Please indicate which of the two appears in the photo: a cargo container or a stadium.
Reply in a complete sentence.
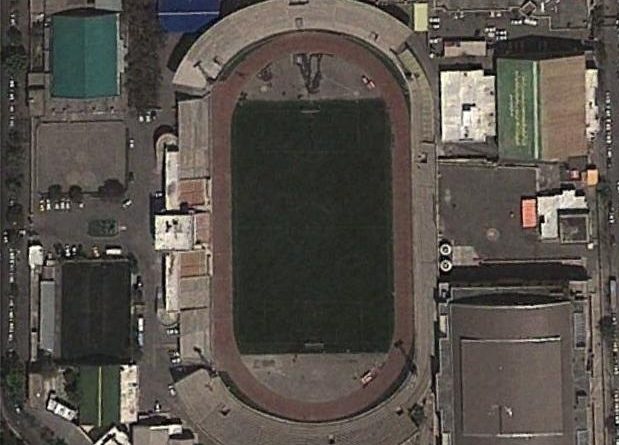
The image shows a stadium.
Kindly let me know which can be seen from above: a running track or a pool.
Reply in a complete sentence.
The one in the frame is a running track.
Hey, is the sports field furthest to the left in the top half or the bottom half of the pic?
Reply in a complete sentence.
The bottom half of the photo is where the sports field furthest to the left is.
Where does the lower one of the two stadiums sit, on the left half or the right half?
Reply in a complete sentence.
It is on the right.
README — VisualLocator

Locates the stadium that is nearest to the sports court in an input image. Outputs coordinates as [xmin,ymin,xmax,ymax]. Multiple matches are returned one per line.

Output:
[173,0,438,445]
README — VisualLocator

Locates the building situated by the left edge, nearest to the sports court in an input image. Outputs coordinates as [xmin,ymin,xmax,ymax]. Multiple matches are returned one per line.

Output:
[29,88,45,116]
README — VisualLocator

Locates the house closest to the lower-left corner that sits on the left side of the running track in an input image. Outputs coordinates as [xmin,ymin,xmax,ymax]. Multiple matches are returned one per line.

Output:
[47,393,77,421]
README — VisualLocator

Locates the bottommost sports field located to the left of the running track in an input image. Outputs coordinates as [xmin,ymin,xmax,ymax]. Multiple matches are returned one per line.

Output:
[54,257,134,364]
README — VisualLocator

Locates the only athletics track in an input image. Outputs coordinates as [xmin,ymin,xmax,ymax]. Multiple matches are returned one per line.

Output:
[212,33,413,423]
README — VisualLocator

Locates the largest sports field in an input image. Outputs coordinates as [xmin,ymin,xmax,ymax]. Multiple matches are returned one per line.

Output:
[232,100,392,353]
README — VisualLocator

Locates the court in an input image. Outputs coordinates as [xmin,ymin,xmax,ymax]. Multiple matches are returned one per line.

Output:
[36,120,129,194]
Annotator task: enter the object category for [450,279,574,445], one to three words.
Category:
stadium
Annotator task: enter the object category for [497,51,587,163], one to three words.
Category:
hangar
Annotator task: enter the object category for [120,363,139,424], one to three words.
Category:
house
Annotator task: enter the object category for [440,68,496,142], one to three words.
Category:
building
